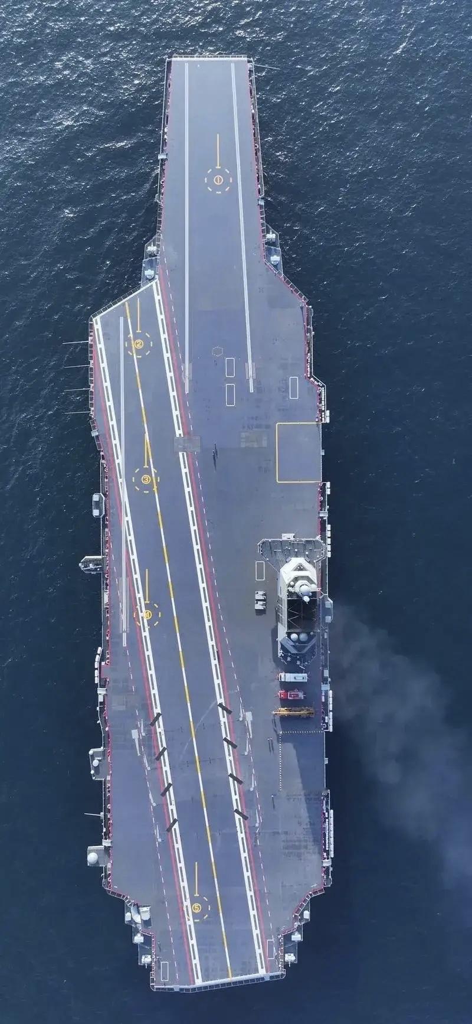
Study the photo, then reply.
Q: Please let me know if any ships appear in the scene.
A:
Yes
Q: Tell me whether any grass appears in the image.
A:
No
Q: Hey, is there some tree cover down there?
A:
No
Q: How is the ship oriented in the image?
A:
from top to bottom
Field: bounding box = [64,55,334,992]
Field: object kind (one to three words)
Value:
ship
